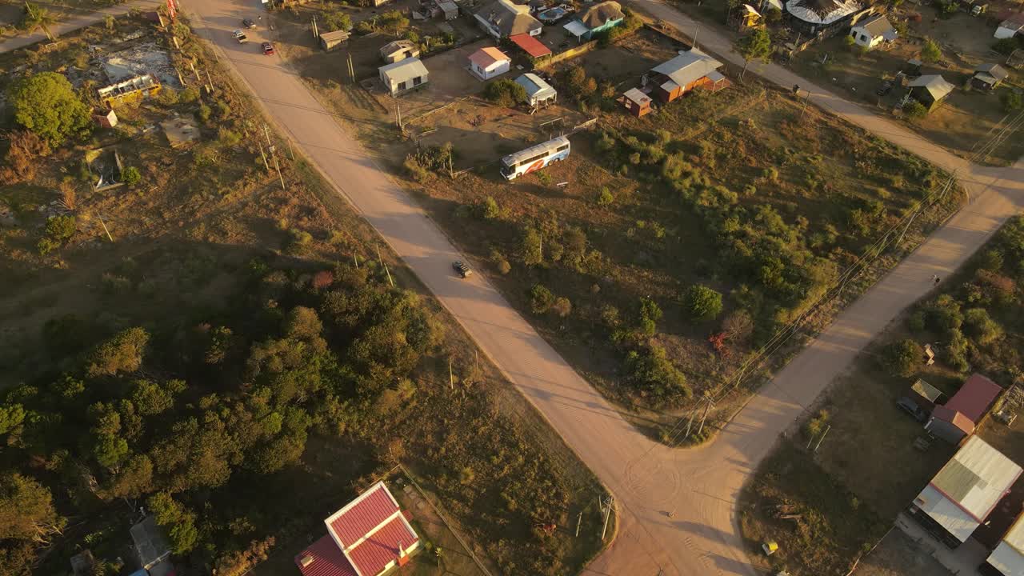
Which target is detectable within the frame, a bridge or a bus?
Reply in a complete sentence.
The one in the frame is a bus.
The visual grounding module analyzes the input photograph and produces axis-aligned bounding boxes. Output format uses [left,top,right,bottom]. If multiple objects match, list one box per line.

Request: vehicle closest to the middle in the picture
[451,258,475,279]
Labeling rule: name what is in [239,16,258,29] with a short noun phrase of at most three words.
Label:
vehicle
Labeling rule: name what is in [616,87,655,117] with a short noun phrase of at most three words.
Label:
shed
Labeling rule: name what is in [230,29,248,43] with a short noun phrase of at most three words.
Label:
vehicle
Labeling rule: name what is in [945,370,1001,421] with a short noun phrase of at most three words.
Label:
house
